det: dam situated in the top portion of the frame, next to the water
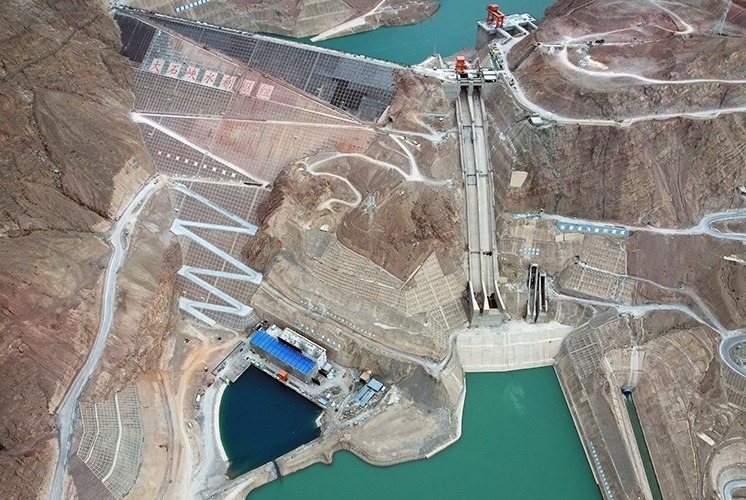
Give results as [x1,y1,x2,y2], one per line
[114,0,449,329]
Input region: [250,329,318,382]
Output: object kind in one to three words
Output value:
building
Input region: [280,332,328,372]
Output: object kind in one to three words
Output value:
building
